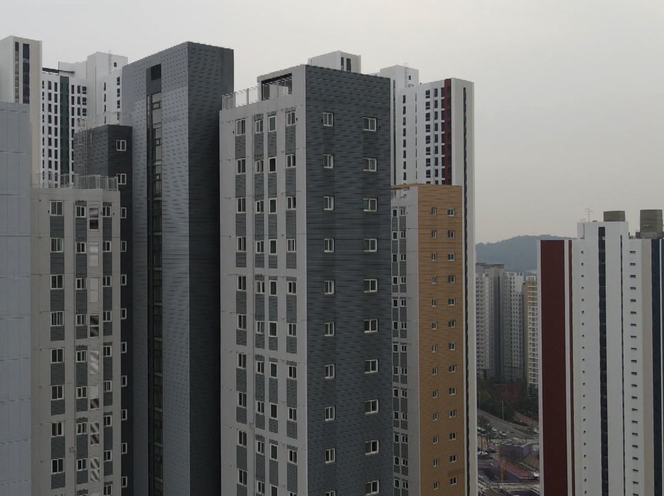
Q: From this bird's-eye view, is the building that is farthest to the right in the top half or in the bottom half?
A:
bottom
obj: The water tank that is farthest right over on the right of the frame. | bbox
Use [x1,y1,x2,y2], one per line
[639,210,664,235]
